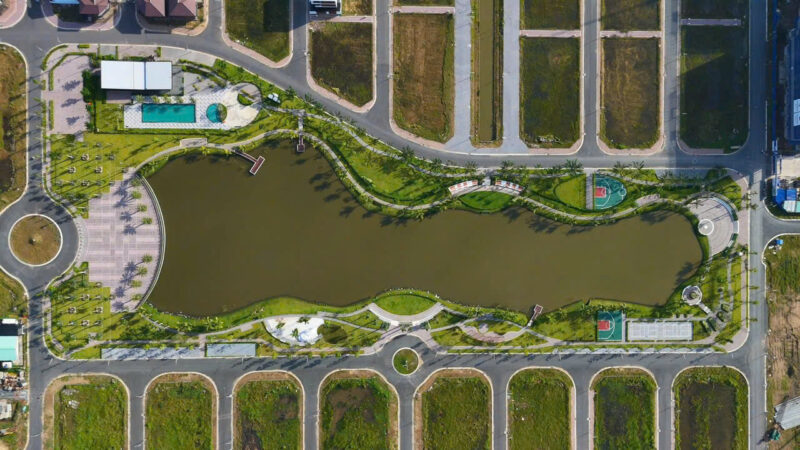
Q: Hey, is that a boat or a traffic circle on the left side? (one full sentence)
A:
Visible on the left side is a traffic circle.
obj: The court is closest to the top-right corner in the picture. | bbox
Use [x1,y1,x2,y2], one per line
[595,174,627,209]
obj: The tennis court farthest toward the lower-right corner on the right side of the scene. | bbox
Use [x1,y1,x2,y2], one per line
[628,322,693,341]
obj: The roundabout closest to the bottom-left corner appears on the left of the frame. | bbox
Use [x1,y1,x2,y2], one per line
[9,213,62,266]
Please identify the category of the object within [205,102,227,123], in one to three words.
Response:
swimming pool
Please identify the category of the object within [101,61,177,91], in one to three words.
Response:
building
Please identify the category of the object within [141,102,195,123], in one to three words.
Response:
swimming pool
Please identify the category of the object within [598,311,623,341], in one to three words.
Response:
basketball court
